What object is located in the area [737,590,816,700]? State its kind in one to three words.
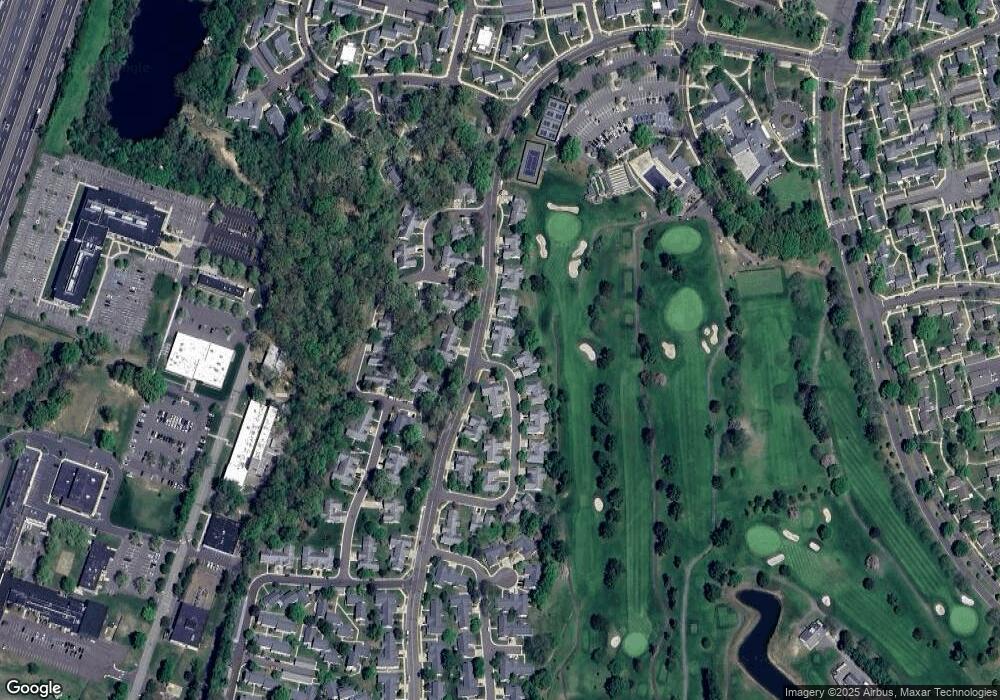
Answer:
pond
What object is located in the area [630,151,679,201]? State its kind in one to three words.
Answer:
swimming pool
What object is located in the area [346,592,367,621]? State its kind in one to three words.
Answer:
house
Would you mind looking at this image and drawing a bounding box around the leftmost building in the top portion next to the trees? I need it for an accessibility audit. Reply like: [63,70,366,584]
[54,187,169,309]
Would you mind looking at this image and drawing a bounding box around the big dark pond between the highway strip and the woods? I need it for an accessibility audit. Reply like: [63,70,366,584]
[108,0,208,139]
